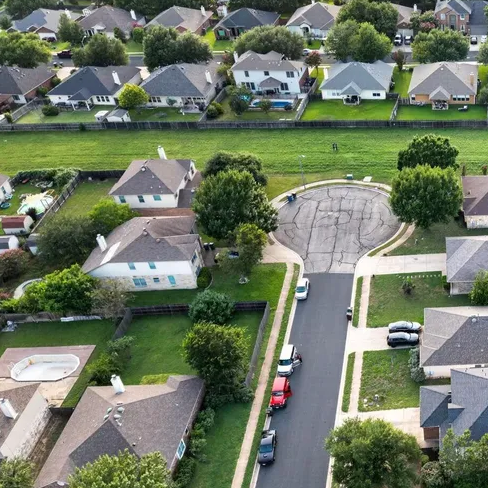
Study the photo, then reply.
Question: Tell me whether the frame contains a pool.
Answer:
Yes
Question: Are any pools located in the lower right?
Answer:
No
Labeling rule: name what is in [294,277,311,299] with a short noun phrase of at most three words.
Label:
car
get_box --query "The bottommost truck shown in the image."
[254,424,280,466]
